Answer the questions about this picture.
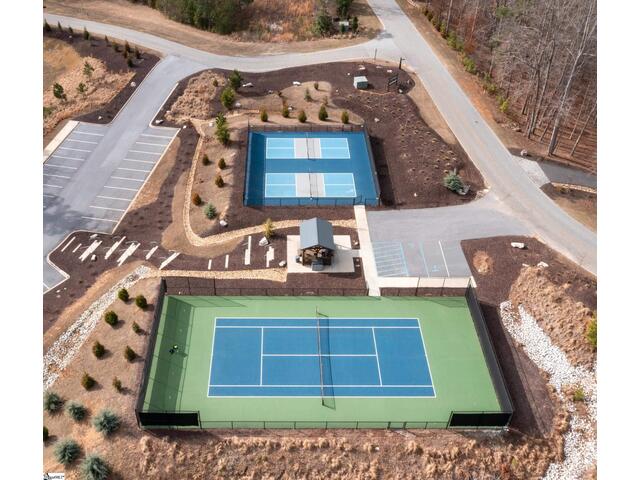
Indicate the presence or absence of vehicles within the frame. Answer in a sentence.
No, there isn't any vehicle down there.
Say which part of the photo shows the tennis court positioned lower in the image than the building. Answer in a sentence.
The tennis court positioned lower in the image than the building appears toward the bottom of the photo.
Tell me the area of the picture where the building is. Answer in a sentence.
Look in the center portion of the view to spot the building.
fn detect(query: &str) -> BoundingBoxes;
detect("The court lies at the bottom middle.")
[139,295,507,429]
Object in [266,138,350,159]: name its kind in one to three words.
sports court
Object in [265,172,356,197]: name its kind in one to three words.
sports court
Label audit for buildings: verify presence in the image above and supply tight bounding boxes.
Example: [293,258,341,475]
[299,216,336,263]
